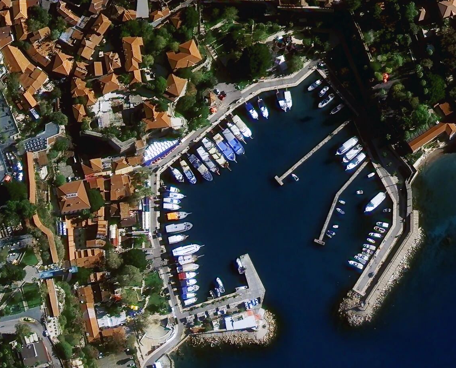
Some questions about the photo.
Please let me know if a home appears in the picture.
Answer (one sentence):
Yes, a home can be made out from above.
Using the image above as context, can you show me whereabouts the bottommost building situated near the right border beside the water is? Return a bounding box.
[406,118,456,150]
